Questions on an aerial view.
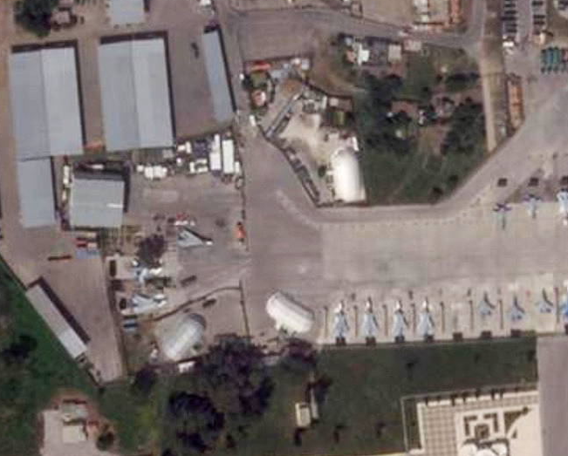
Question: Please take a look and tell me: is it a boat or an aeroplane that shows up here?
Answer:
aeroplane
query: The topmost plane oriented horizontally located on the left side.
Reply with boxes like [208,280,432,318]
[176,230,211,245]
